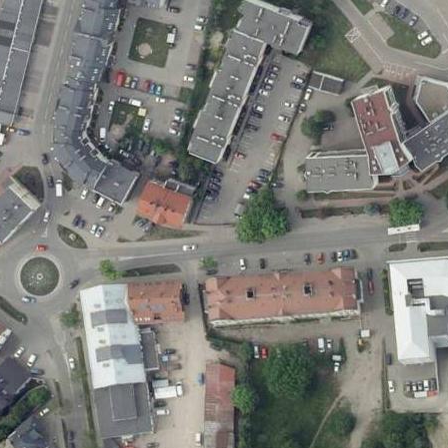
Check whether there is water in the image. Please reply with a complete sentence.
No, no water is visible.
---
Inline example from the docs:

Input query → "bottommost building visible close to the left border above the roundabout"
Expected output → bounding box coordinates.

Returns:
[0,187,38,247]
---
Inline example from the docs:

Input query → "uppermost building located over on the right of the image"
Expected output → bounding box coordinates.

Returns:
[237,0,317,60]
